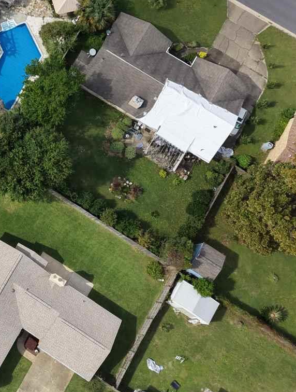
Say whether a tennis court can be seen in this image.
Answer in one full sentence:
No, I can't see a single tennis court in this photo.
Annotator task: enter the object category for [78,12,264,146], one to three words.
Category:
house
